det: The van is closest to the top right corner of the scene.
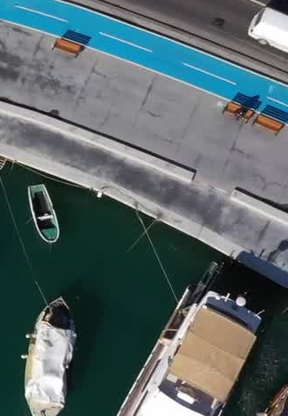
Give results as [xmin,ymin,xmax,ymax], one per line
[253,7,288,54]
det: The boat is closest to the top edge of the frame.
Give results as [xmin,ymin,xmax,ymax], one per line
[27,183,59,244]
